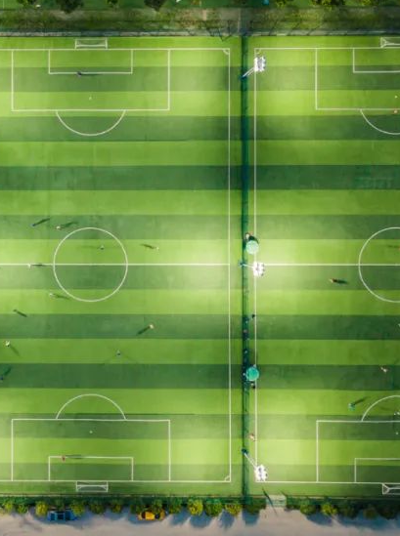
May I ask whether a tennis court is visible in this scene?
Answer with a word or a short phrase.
No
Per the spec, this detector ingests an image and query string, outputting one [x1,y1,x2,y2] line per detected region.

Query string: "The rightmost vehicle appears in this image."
[137,507,165,524]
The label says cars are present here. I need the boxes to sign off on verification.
[137,507,165,524]
[46,508,78,525]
